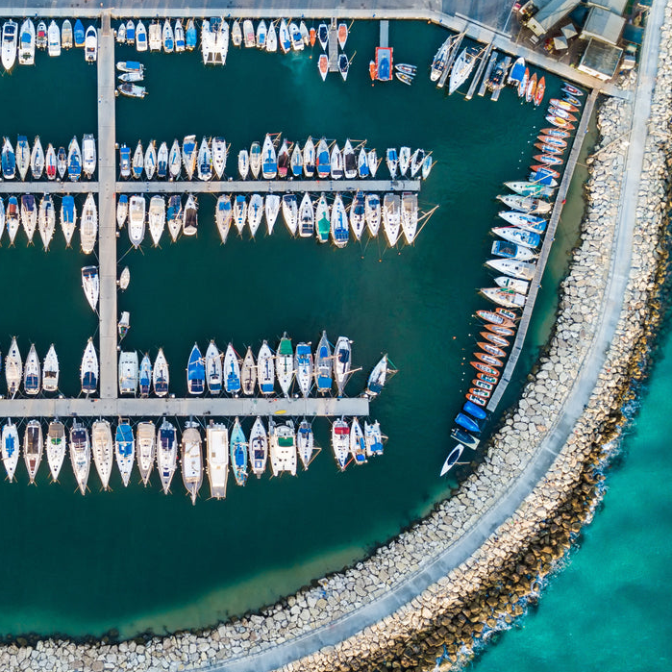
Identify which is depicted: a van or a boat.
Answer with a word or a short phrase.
boat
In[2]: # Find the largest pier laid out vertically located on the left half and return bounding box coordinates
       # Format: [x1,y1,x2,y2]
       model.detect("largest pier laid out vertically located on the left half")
[97,41,116,398]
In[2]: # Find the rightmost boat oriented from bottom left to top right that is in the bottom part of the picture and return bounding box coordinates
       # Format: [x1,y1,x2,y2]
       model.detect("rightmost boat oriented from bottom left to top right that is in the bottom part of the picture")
[440,443,464,476]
